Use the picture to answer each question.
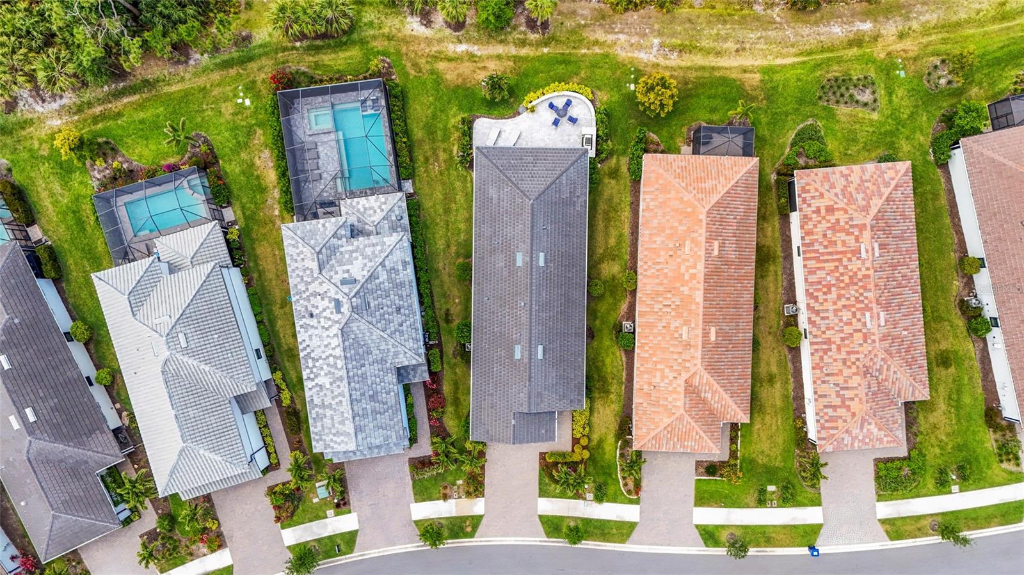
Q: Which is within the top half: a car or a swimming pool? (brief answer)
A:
swimming pool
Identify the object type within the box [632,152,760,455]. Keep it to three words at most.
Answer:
house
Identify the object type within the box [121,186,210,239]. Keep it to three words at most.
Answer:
swimming pool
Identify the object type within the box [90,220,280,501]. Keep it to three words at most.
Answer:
house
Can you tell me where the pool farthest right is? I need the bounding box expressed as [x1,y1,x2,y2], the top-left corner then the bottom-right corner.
[329,98,393,194]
